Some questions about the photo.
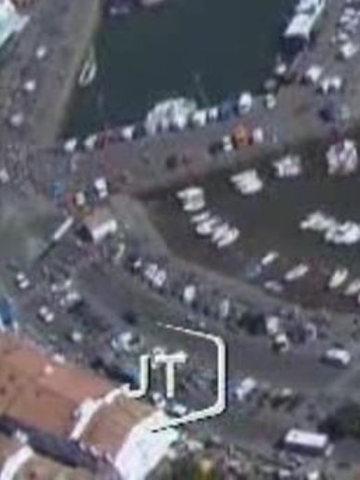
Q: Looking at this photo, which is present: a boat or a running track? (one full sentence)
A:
I can see a boat in this picture.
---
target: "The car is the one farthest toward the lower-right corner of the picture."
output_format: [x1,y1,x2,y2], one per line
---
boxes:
[304,465,321,480]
